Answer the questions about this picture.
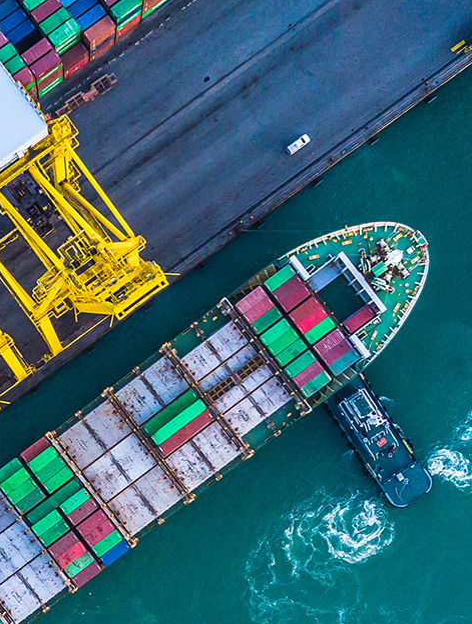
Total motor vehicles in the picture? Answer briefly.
two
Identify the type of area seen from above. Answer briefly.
port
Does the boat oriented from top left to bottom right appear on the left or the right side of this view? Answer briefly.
right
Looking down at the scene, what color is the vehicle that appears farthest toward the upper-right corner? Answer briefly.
white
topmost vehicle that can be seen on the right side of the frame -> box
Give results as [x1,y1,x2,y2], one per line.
[285,133,311,155]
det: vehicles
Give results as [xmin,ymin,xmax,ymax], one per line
[46,71,120,125]
[285,133,311,155]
